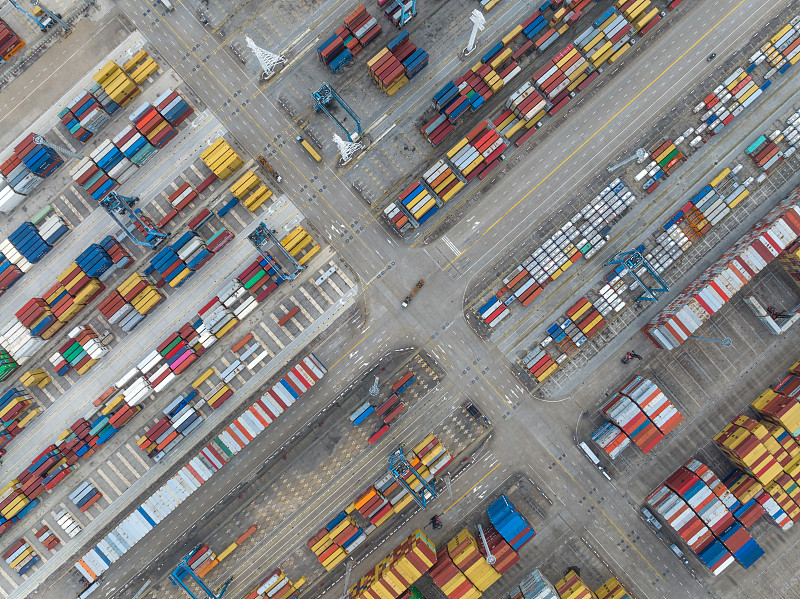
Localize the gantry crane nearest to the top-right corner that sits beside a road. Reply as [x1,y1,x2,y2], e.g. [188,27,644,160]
[602,248,676,307]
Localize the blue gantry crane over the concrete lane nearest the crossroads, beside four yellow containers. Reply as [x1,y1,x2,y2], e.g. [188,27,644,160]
[248,223,311,282]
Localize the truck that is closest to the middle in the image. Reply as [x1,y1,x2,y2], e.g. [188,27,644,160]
[401,283,425,309]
